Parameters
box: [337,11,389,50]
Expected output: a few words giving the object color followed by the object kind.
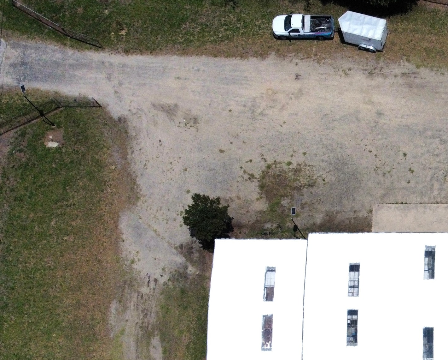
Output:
white trailer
